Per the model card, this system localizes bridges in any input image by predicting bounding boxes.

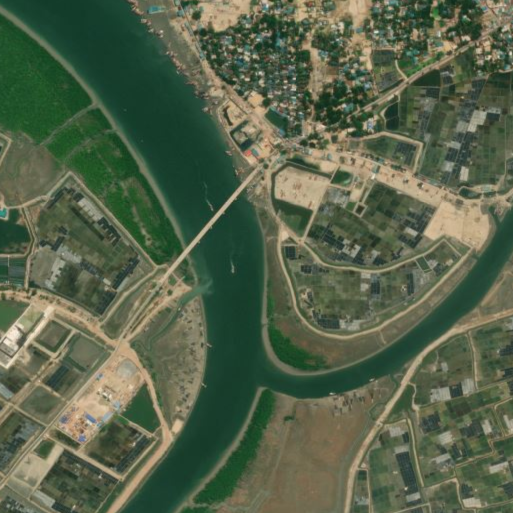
[160,162,265,279]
